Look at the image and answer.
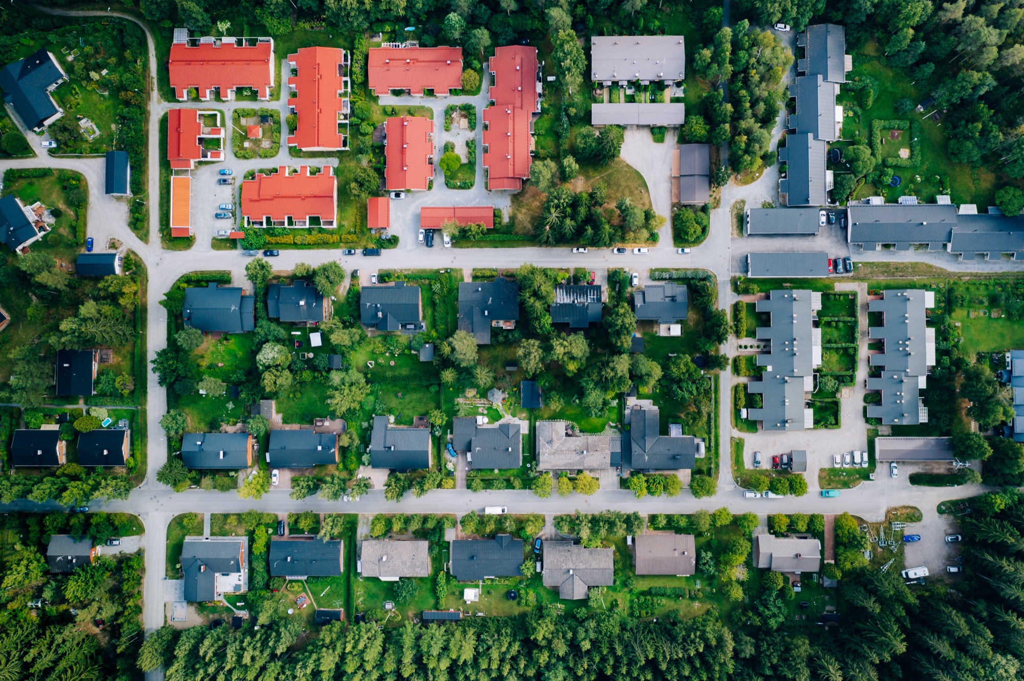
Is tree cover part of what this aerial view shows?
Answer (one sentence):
Yes, there is tree cover in the image.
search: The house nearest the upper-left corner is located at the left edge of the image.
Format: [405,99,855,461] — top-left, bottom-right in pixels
[0,47,71,131]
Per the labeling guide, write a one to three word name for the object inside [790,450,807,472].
shed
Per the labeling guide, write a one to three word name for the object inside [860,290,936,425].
house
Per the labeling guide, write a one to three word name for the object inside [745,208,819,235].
building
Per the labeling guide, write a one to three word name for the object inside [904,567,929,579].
vehicle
